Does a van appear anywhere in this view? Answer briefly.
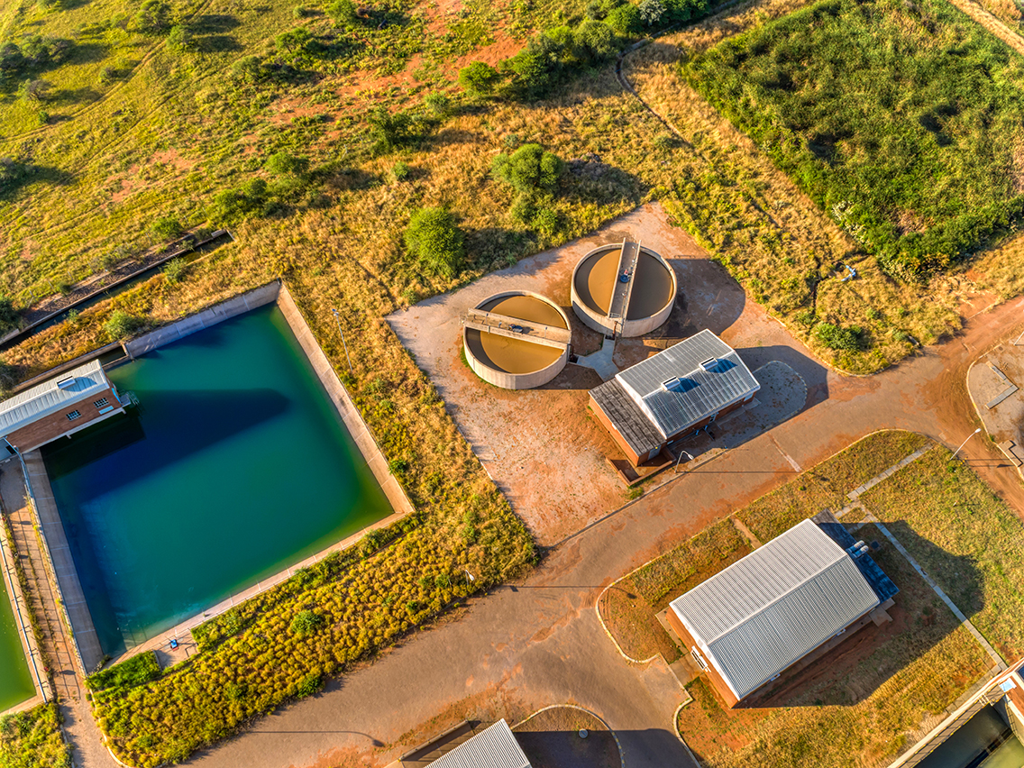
No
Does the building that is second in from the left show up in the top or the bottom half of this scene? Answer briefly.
bottom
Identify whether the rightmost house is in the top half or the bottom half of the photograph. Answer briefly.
bottom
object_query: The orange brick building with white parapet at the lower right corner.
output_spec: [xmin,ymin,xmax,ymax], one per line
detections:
[993,660,1024,716]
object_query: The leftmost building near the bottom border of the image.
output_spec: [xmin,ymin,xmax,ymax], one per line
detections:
[423,717,532,768]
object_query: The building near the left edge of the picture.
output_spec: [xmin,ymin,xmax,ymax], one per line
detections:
[0,358,140,459]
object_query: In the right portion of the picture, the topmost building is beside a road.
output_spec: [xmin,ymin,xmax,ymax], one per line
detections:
[589,329,761,464]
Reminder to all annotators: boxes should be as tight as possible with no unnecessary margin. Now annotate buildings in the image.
[423,717,532,768]
[667,509,900,705]
[0,358,140,459]
[589,329,761,464]
[993,660,1024,716]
